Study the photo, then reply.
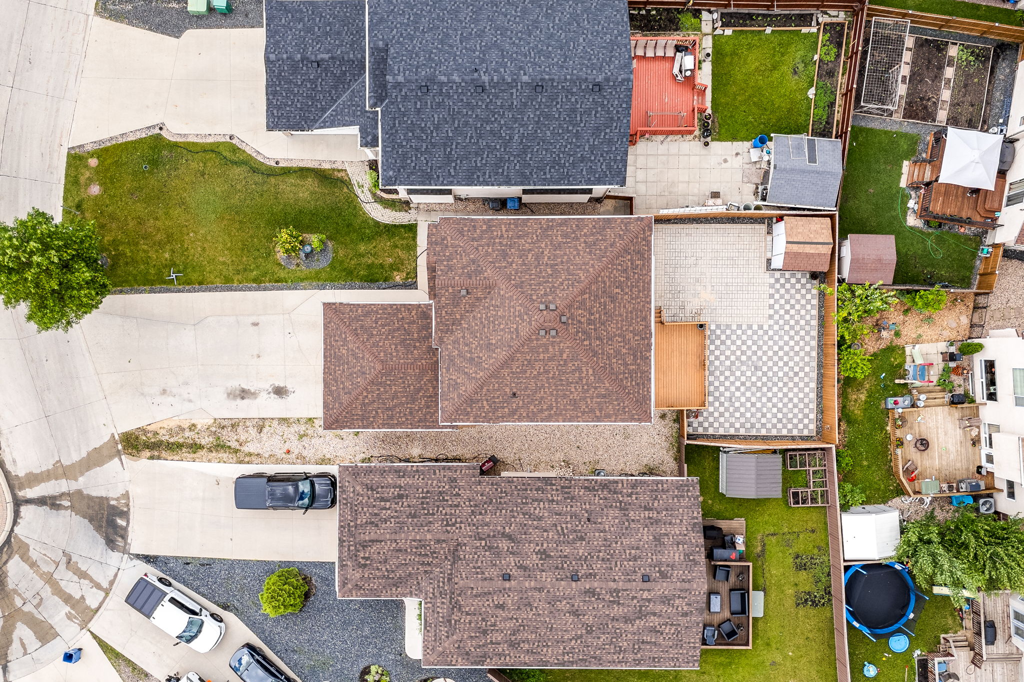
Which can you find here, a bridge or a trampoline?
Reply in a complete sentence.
I can see a trampoline in this picture.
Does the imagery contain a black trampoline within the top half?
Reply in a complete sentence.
No, no black trampoline appears within the top half.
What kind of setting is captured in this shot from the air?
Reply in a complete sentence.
The picture captures a residential area.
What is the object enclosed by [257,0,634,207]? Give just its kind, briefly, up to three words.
house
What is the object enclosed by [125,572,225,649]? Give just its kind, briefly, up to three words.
truck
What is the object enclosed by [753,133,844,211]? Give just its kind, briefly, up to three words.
shed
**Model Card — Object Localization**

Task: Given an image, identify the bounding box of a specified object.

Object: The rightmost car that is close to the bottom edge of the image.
[233,642,306,682]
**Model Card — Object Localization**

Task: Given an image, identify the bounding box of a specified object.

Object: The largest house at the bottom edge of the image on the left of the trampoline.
[337,463,706,669]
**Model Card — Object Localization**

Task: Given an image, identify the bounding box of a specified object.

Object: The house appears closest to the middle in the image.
[322,215,655,431]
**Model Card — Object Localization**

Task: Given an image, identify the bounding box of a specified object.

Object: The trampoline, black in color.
[843,561,929,641]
